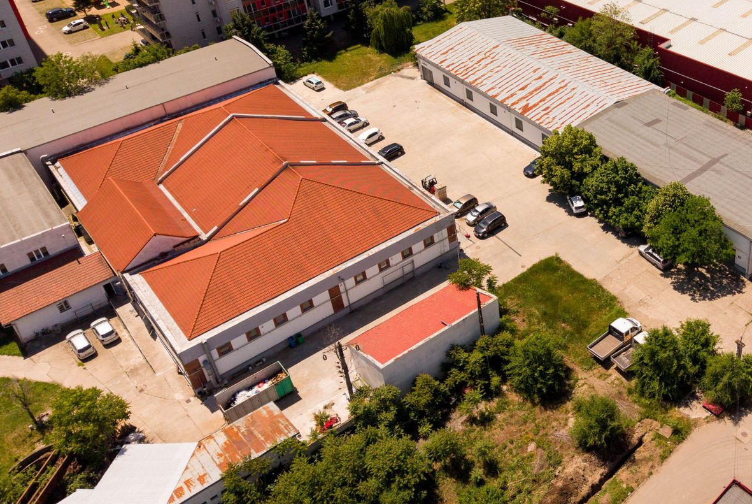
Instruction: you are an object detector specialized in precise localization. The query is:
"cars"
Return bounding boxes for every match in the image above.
[333,106,359,123]
[380,140,408,159]
[522,156,547,177]
[606,217,639,241]
[303,75,325,90]
[47,7,74,19]
[322,96,351,116]
[63,18,88,32]
[451,192,481,216]
[343,116,370,130]
[473,210,507,239]
[64,331,93,358]
[637,246,676,270]
[464,202,498,226]
[359,125,386,143]
[91,318,118,344]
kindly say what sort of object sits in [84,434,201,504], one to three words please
shed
